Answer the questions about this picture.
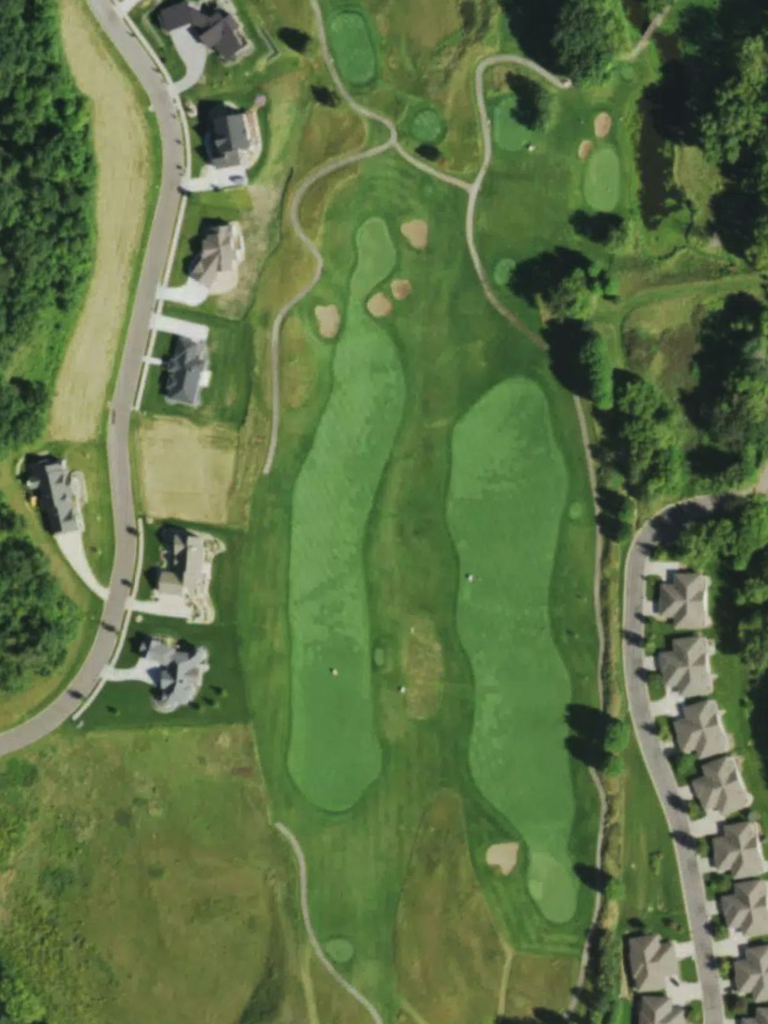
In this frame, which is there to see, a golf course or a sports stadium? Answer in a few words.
golf course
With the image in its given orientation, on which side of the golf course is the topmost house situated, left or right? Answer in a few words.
on its left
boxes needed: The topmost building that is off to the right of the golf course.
[658,573,708,628]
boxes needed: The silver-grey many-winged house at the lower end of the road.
[145,637,211,711]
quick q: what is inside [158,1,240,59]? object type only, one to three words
house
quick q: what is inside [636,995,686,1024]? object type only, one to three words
house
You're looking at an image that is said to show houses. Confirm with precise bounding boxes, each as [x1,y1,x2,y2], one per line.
[658,573,708,628]
[671,698,727,759]
[24,457,79,534]
[188,225,234,288]
[711,820,765,879]
[207,111,251,170]
[691,757,748,818]
[145,637,211,711]
[156,534,204,595]
[720,880,768,939]
[734,946,768,1003]
[158,1,240,59]
[165,336,211,402]
[636,995,686,1024]
[623,935,675,993]
[660,637,712,695]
